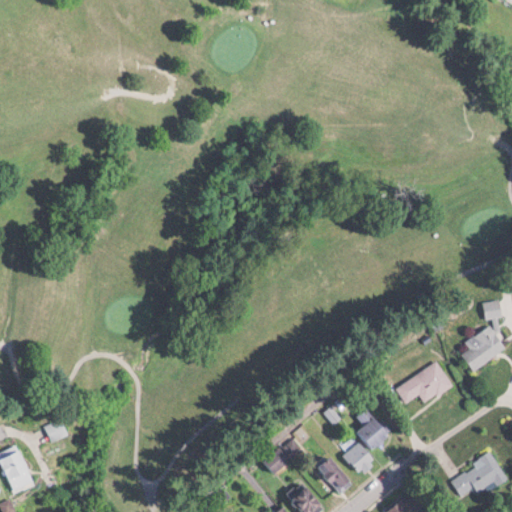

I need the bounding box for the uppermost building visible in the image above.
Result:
[484,302,502,331]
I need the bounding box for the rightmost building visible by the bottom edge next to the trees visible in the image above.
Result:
[452,454,504,499]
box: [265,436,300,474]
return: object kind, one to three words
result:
house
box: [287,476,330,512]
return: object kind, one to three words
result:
house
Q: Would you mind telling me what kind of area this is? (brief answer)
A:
golf course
